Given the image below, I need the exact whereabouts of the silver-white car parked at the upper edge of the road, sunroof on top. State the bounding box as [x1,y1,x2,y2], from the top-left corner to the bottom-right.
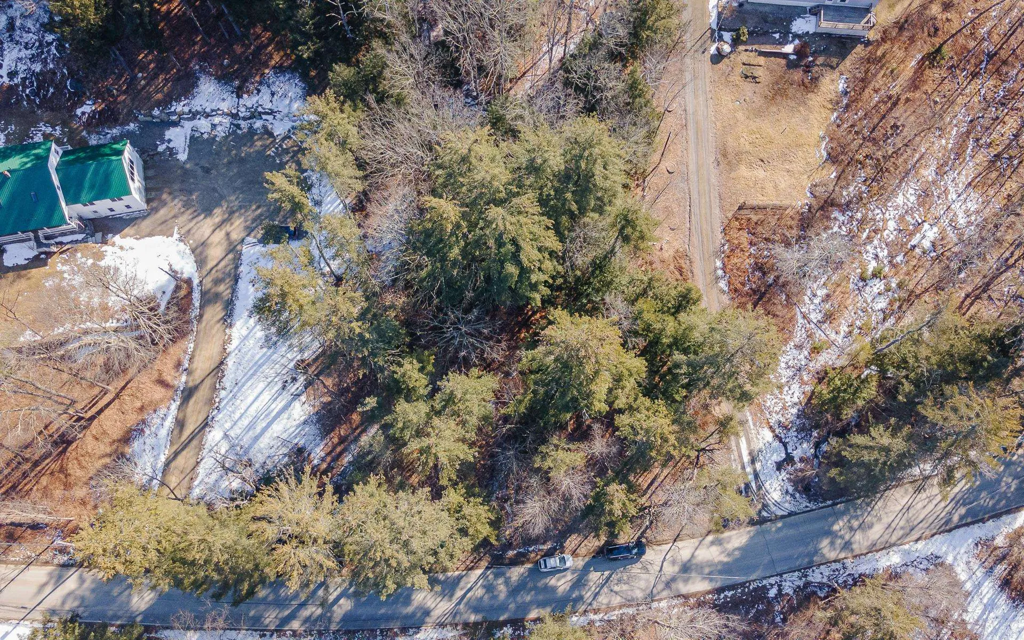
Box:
[537,553,574,572]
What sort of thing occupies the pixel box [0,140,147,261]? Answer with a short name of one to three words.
building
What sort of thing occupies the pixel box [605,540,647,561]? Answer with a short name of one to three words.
vehicle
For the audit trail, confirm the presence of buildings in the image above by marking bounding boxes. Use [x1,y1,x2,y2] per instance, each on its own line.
[0,140,147,261]
[743,0,889,32]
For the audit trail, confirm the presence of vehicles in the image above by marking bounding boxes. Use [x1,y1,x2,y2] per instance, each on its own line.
[605,540,647,561]
[537,553,574,572]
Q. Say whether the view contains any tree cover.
Yes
